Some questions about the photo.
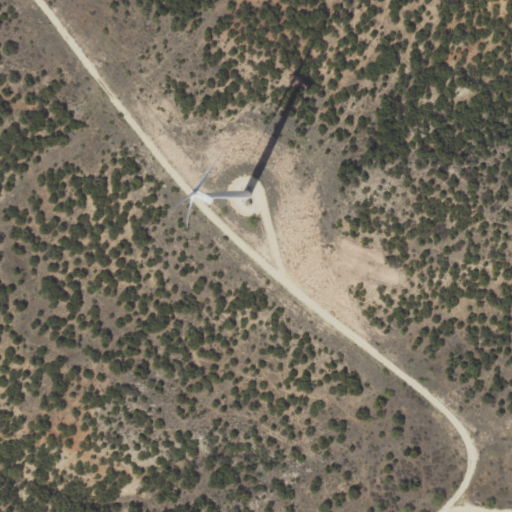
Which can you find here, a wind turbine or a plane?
wind turbine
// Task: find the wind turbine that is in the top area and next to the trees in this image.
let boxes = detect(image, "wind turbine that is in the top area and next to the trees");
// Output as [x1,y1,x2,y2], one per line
[168,137,254,226]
